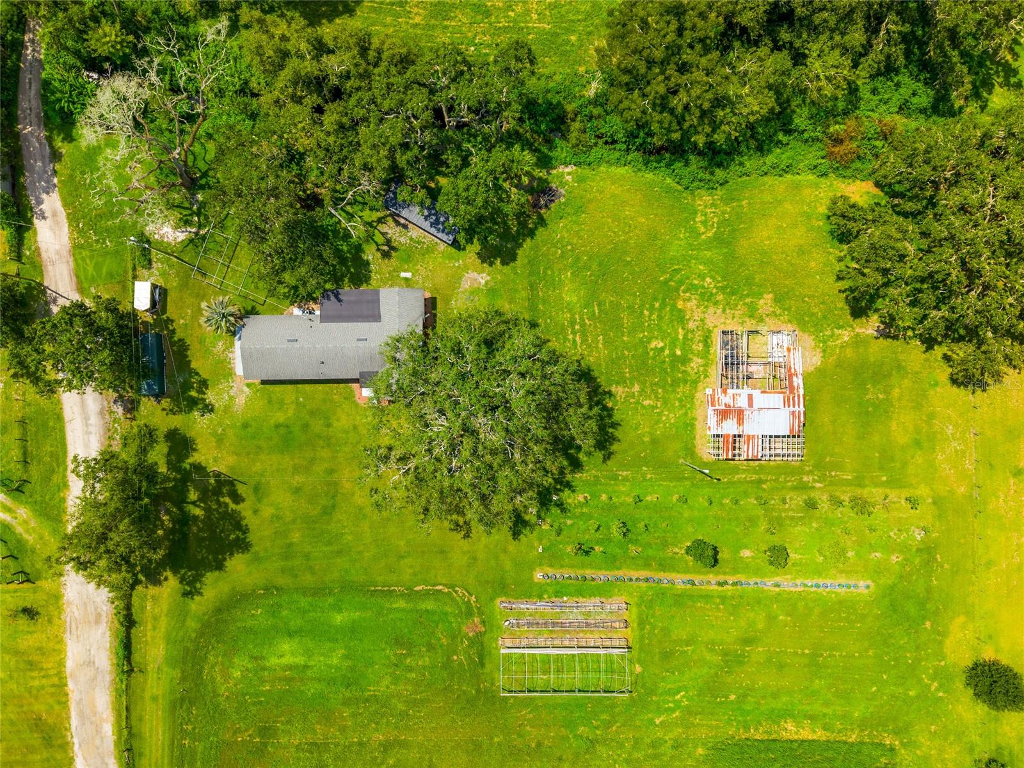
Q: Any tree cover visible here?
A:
Yes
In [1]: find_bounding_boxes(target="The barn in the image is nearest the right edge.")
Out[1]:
[705,324,806,467]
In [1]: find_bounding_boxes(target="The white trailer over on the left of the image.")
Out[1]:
[134,281,166,321]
